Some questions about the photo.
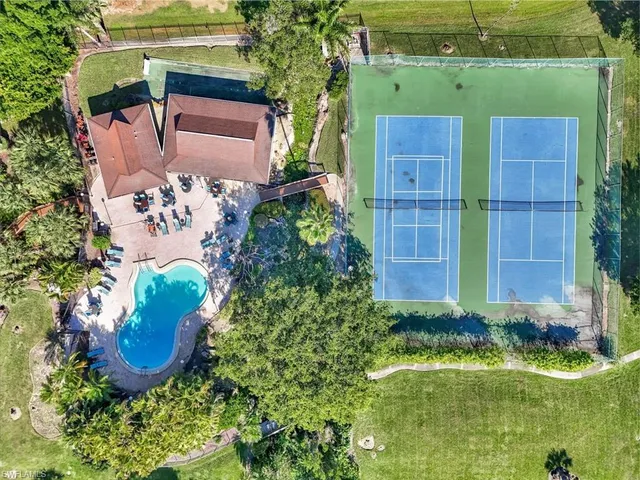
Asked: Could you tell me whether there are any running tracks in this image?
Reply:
No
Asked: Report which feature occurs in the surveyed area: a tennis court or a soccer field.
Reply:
tennis court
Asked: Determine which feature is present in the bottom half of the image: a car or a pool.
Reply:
pool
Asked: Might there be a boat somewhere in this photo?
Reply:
No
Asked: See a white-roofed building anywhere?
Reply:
No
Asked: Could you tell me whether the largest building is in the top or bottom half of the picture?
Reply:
top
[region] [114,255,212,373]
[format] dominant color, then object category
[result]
blue swimming pool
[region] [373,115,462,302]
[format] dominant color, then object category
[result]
blue tennis court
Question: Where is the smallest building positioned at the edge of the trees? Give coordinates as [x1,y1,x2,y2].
[89,102,170,199]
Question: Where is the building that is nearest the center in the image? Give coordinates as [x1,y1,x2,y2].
[164,92,278,184]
